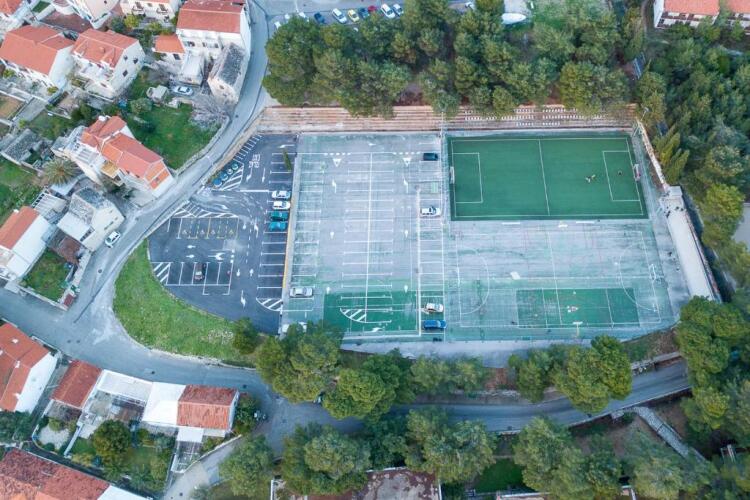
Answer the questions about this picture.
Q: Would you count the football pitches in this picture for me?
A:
1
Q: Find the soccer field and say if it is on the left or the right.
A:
right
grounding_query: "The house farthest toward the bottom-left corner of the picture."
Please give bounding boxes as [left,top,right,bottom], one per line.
[0,447,109,500]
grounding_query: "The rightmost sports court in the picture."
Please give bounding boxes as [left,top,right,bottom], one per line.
[444,219,679,338]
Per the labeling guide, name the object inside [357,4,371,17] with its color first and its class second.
blue vehicle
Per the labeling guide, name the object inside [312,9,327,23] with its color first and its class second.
blue vehicle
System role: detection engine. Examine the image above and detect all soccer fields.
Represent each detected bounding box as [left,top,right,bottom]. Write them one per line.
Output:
[448,135,649,221]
